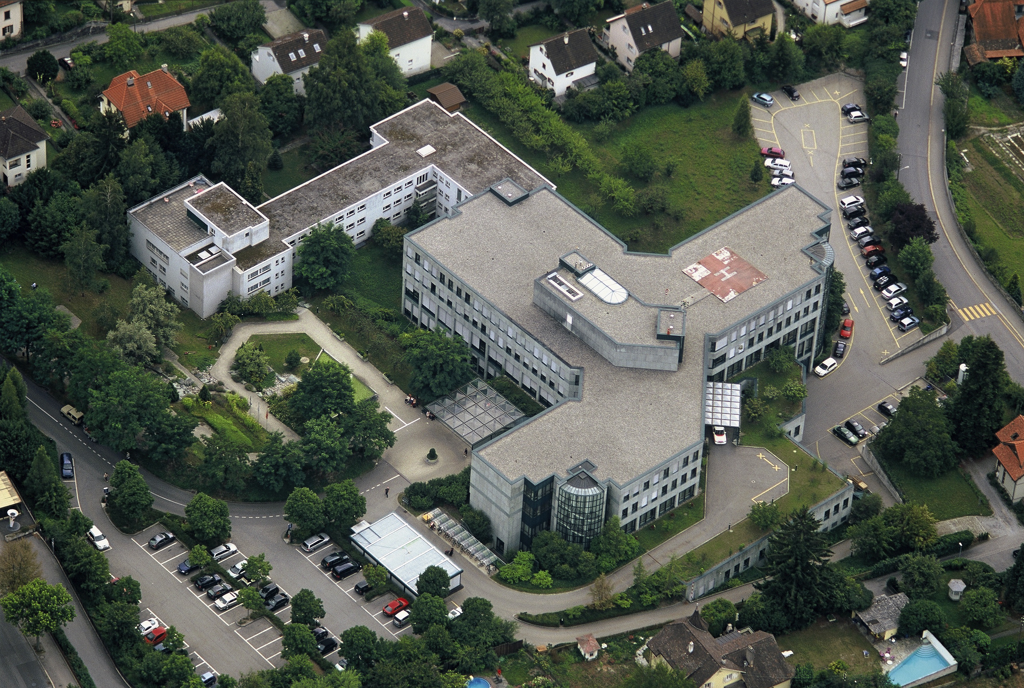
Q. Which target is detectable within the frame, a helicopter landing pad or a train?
helicopter landing pad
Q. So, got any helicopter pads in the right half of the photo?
Yes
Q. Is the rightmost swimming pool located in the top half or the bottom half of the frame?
bottom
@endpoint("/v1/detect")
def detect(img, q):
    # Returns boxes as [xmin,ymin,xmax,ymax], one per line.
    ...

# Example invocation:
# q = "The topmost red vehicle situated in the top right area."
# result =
[759,147,786,159]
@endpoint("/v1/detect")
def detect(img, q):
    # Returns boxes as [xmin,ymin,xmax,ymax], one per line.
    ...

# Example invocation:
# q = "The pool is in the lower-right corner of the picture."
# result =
[886,628,959,688]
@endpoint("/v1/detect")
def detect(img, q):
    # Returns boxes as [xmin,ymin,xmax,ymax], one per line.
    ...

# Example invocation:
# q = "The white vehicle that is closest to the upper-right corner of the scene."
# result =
[898,50,910,68]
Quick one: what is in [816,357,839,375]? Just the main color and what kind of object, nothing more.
white car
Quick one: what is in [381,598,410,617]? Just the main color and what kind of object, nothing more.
red car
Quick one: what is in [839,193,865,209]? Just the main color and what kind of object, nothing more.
white car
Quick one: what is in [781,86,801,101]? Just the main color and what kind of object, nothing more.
black car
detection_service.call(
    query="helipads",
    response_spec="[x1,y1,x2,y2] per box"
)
[682,255,769,304]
